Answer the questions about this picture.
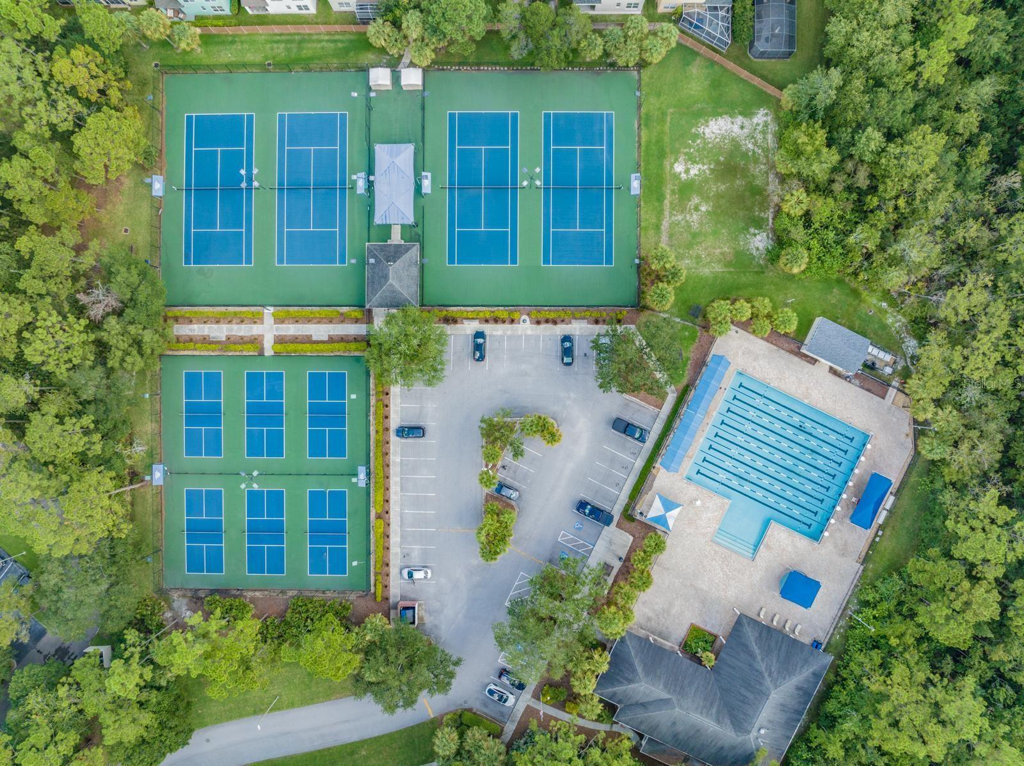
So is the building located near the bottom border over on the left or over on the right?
right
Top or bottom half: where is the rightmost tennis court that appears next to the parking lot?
top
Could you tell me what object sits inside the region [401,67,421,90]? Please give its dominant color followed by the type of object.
white tent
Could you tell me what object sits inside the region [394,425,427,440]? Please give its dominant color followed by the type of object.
blue car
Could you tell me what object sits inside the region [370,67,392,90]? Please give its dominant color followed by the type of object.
white tent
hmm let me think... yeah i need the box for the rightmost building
[800,316,870,374]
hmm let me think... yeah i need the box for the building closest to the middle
[365,242,420,308]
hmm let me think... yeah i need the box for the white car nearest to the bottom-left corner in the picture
[401,568,432,587]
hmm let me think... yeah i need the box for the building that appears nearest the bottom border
[592,607,832,766]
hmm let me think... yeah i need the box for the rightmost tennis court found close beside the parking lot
[531,70,639,304]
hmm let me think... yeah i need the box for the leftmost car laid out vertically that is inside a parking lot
[472,330,486,361]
